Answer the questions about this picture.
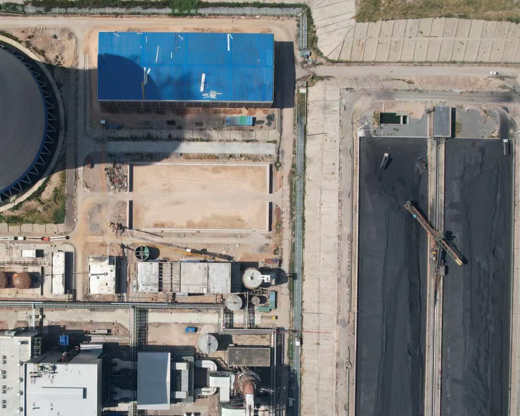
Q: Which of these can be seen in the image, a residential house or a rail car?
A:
residential house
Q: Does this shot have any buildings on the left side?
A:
Yes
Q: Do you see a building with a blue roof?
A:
Yes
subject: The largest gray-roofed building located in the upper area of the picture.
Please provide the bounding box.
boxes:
[427,107,451,138]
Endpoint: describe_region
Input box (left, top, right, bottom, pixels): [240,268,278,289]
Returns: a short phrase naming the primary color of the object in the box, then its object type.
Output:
white silo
